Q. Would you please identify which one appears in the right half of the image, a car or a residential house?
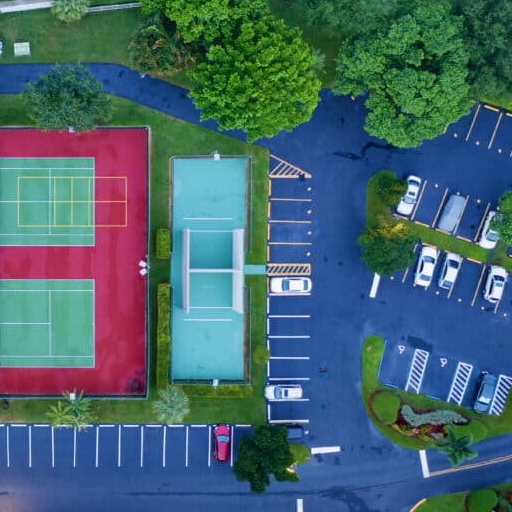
car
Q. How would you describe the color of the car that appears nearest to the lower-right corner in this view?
blue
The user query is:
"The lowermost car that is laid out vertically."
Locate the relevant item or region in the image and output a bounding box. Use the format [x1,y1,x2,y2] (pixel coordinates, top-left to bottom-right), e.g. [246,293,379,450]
[213,424,231,462]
